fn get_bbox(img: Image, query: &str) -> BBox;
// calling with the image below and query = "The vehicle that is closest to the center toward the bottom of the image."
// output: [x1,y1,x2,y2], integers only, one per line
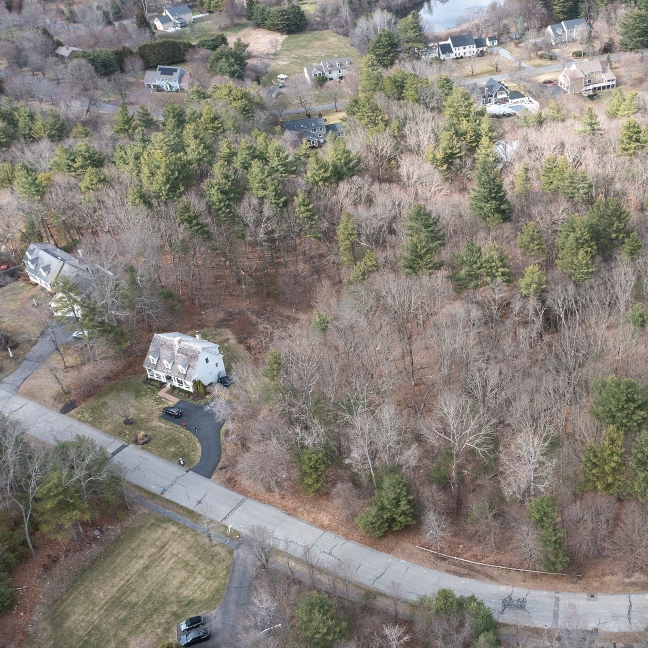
[159,405,182,418]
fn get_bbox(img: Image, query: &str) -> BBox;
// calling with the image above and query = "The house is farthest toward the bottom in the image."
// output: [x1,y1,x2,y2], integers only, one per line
[143,330,232,389]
